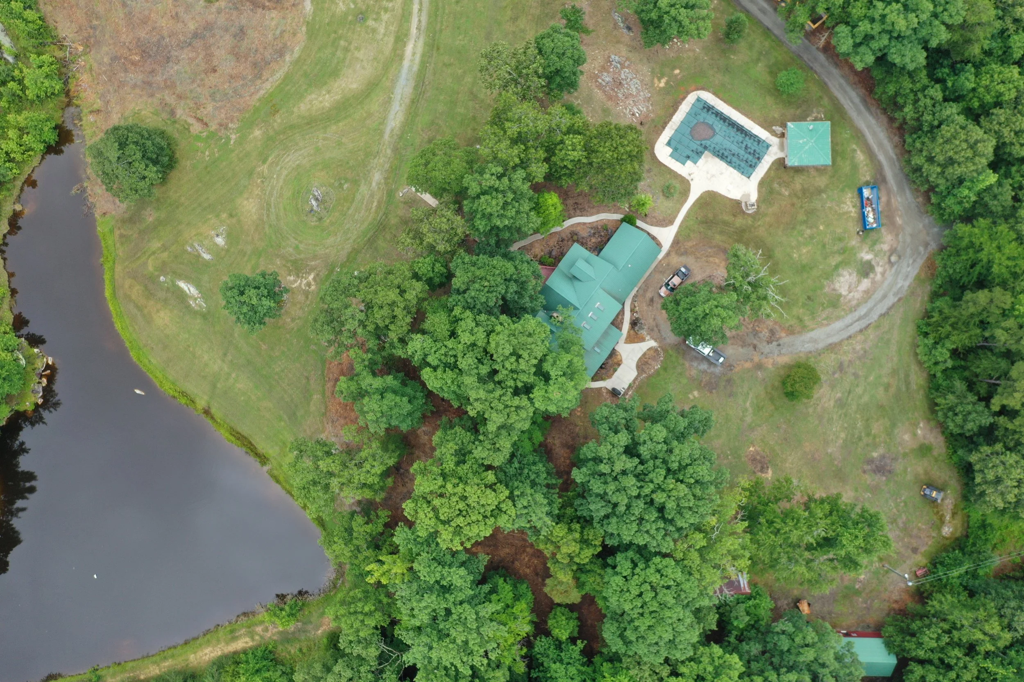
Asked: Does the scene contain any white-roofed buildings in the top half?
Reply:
No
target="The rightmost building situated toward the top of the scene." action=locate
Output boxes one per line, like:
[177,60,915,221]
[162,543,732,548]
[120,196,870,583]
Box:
[784,121,832,167]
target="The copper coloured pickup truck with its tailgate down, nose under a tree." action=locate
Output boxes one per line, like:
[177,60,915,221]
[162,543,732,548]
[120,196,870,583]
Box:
[656,259,696,300]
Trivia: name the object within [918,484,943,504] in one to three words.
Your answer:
work vehicle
